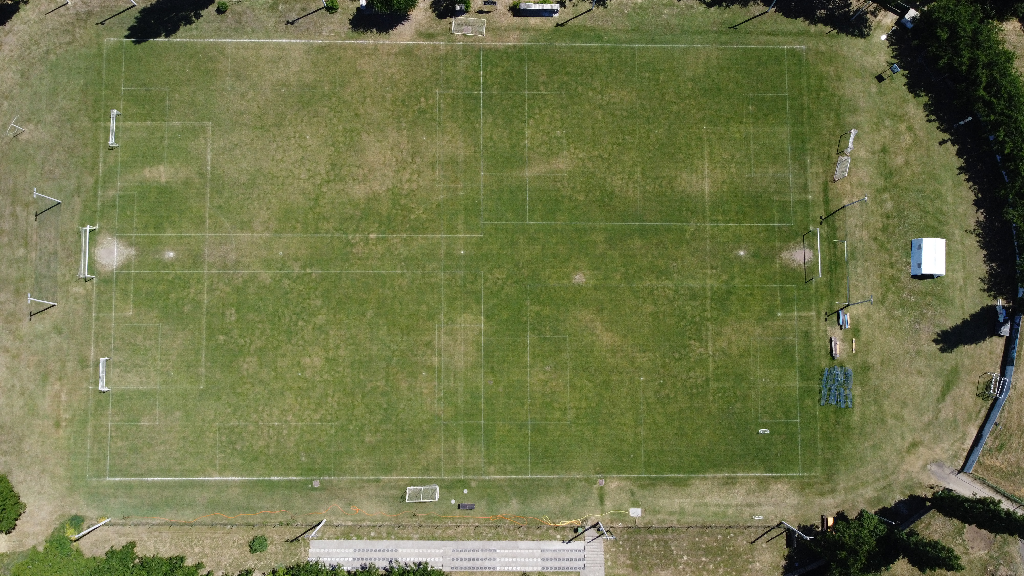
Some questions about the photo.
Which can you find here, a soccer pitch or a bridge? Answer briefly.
soccer pitch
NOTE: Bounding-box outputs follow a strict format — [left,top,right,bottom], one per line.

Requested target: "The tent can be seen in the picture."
[911,236,946,281]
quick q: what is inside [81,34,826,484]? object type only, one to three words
soccer field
